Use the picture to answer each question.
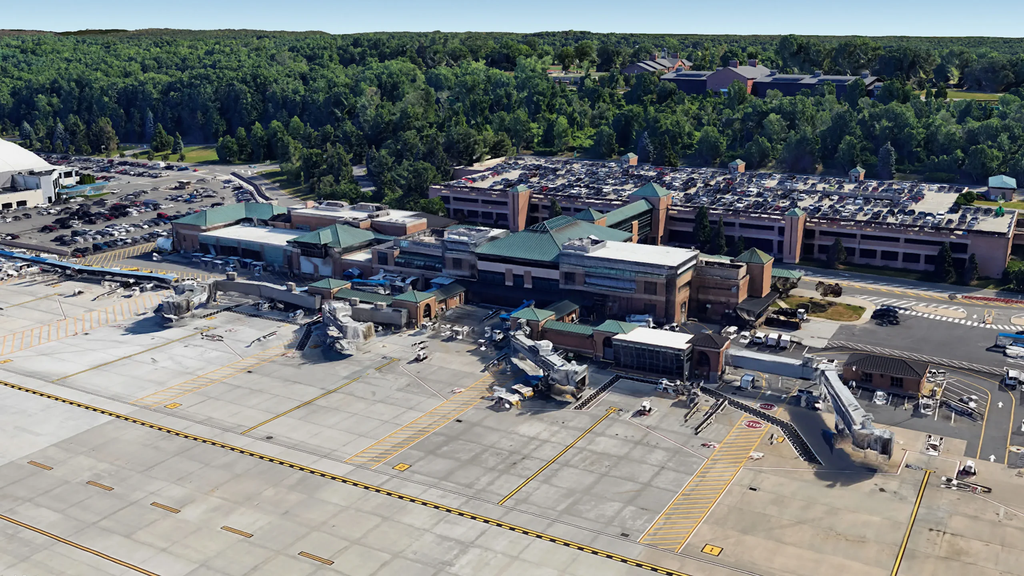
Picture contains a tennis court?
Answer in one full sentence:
No, there's no tennis court here.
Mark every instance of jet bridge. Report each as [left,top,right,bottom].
[724,346,888,452]
[332,295,407,345]
[500,320,591,393]
[156,273,335,316]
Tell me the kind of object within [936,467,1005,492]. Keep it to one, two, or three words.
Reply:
work vehicle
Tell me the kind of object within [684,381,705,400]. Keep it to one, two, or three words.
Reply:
work vehicle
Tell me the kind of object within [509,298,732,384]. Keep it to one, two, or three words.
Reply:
building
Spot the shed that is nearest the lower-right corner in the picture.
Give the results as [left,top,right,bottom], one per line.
[842,350,931,396]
